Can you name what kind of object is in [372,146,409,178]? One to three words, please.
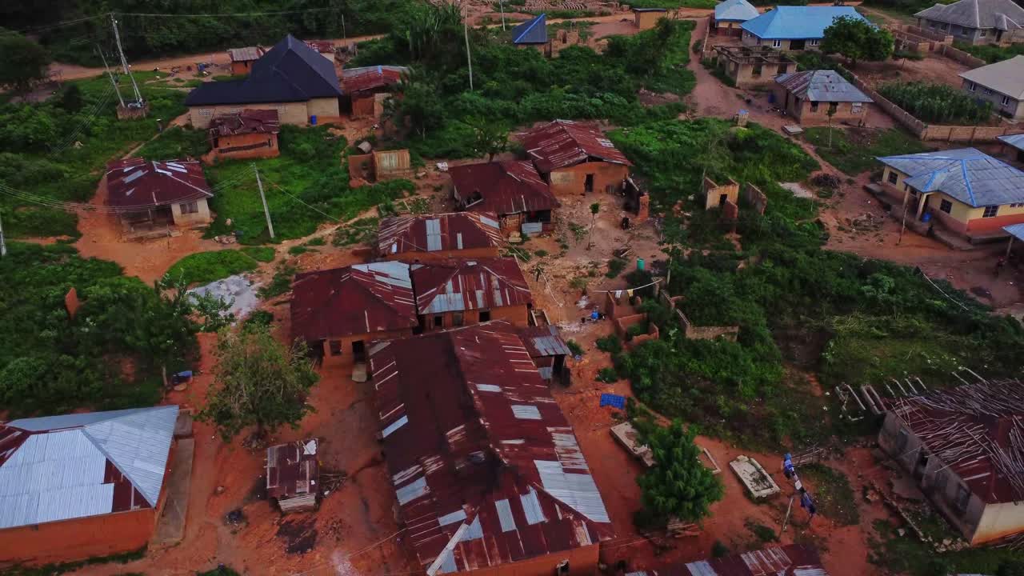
shed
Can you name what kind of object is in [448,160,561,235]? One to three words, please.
house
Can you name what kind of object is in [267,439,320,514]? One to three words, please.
shed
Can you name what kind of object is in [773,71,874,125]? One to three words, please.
house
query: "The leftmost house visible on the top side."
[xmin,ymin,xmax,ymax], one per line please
[105,160,213,243]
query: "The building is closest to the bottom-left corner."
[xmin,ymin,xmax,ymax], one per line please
[0,405,179,563]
